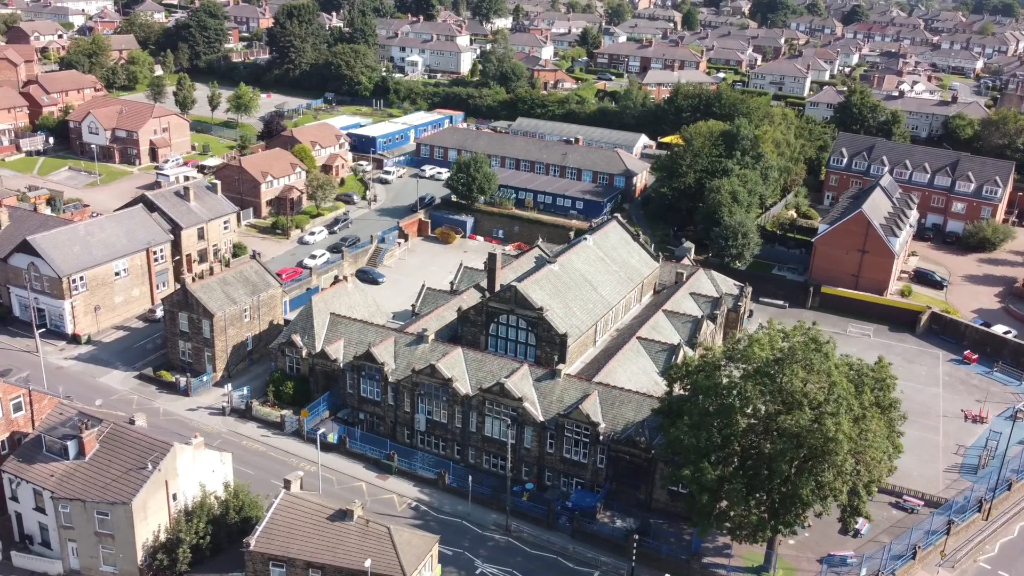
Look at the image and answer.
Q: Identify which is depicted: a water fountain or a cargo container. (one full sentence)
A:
There is a cargo container in the scene.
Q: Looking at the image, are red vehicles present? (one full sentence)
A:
Yes, you can see a red vehicle in this photo.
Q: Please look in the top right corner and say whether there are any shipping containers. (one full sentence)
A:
No, there is no shipping container in the top right corner.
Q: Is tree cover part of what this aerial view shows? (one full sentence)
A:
Yes, tree cover can be seen from above here.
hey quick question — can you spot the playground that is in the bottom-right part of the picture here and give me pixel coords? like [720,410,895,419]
[716,305,1024,576]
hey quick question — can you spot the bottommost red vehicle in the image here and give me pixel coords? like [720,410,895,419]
[271,263,307,281]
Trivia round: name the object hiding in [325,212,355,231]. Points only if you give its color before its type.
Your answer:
gray car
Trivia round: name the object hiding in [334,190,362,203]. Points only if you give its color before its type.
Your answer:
gray vehicle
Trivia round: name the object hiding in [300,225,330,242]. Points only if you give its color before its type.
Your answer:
white car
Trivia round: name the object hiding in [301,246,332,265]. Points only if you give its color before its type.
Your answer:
white car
